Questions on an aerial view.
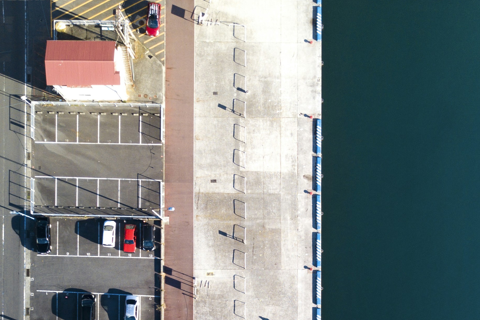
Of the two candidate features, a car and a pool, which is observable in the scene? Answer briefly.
car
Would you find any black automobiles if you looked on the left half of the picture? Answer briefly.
Yes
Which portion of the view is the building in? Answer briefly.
top left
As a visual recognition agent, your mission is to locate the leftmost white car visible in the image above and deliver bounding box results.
[100,219,115,247]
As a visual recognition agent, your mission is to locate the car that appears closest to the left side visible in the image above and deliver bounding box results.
[33,216,50,253]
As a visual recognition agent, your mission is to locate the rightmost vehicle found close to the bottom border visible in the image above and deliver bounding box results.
[122,295,139,320]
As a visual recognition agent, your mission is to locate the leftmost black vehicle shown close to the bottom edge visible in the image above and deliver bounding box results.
[78,293,96,320]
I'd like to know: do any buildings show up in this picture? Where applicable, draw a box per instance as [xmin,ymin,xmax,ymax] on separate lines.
[45,41,133,101]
